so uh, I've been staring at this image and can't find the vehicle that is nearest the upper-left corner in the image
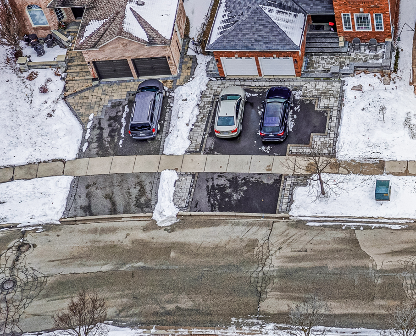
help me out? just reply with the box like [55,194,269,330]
[128,86,167,139]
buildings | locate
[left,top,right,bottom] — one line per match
[9,0,190,81]
[203,0,398,78]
